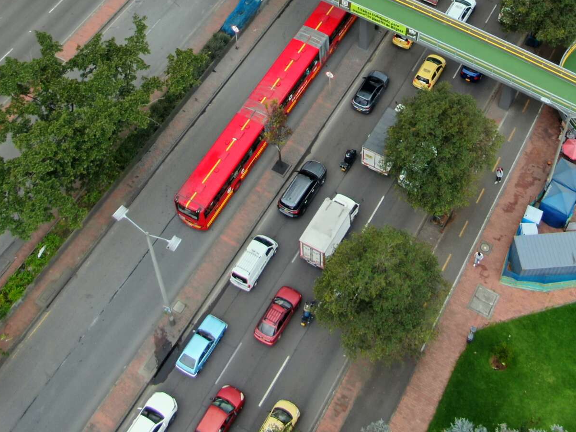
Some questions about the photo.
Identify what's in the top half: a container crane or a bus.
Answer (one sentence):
You can see a bus in the top half.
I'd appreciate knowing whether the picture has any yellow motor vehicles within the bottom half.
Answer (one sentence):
Yes, a yellow motor vehicle can be seen within the bottom half.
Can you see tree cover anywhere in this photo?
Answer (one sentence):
Yes, the picture does contain tree cover.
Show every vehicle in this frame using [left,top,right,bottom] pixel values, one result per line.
[175,316,226,382]
[251,285,302,351]
[278,162,326,220]
[461,66,484,84]
[177,2,352,233]
[190,383,243,432]
[411,53,447,96]
[295,191,363,279]
[256,395,299,432]
[229,233,278,296]
[348,71,390,120]
[442,0,477,30]
[353,102,412,185]
[390,35,413,50]
[128,391,177,432]
[296,300,315,327]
